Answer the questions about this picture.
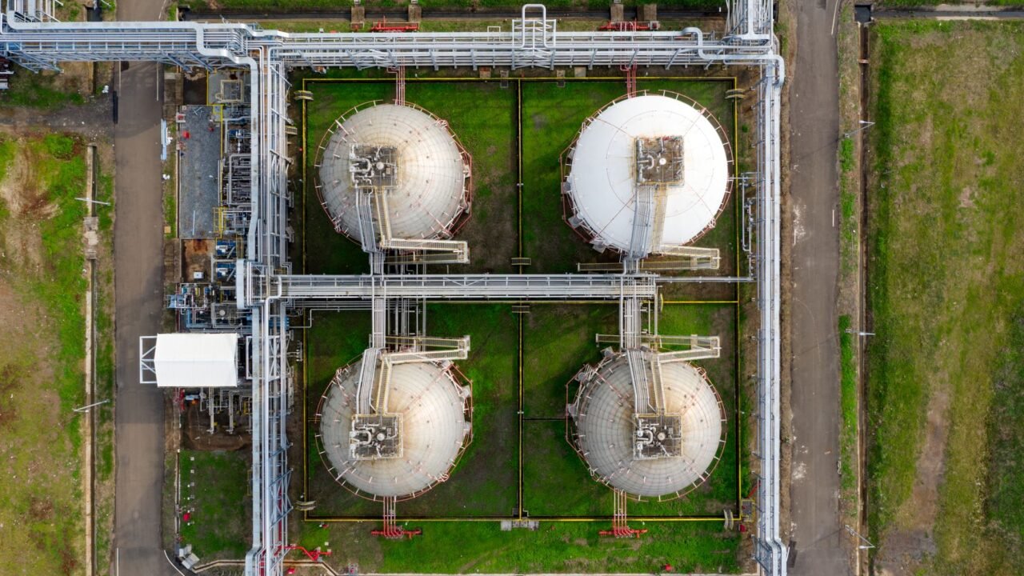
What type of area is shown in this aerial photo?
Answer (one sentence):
It's an industrial area.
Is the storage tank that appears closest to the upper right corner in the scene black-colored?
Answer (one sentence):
No, the storage tank that appears closest to the upper right corner is actually white.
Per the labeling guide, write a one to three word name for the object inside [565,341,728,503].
storage tank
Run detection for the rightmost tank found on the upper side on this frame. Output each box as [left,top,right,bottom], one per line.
[560,88,736,261]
